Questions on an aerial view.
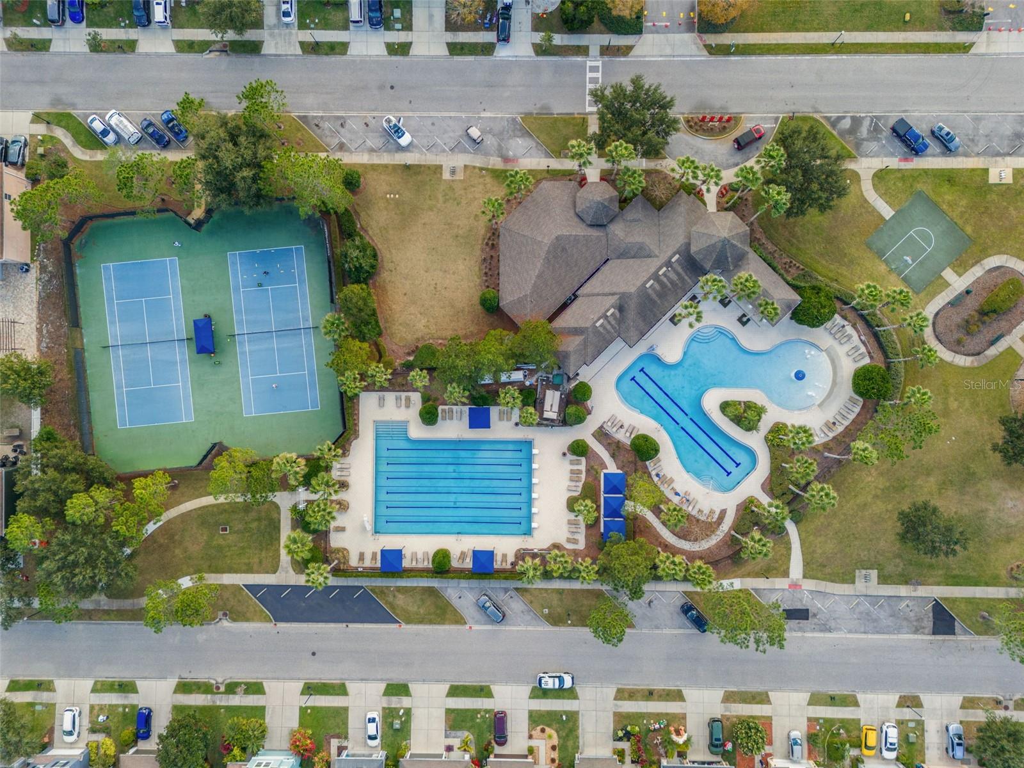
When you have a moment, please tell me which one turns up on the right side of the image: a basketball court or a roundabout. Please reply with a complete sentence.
It is a basketball court that can be seen on the right side of the image.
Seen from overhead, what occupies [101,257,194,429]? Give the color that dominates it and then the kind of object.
blue tennis court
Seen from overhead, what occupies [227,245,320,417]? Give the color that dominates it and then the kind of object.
blue tennis court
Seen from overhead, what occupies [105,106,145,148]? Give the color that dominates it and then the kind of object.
white van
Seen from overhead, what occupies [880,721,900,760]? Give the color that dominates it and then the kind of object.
white car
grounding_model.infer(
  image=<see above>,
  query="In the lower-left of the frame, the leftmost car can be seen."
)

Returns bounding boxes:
[62,706,81,742]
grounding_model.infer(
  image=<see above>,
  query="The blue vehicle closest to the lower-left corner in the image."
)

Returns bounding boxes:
[135,706,153,741]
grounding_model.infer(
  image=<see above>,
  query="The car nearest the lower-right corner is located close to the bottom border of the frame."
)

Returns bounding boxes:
[945,721,966,760]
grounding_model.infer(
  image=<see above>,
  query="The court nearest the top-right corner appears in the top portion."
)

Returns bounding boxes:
[866,190,972,293]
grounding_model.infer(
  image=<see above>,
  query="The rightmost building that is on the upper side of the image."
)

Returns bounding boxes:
[499,181,802,378]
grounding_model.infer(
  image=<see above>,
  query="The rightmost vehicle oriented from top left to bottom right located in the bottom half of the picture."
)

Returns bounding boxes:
[679,600,710,635]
